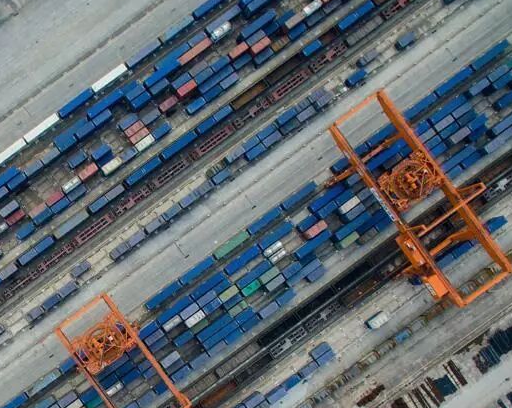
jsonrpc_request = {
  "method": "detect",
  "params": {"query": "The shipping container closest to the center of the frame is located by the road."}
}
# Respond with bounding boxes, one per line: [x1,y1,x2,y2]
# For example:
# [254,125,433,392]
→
[244,205,284,236]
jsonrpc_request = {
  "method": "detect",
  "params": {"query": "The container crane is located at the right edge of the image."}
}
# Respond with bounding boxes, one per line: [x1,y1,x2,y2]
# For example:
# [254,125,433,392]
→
[326,91,512,307]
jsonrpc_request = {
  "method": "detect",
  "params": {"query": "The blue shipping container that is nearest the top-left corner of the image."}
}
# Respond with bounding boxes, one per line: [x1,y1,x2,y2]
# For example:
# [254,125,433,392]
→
[58,88,94,119]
